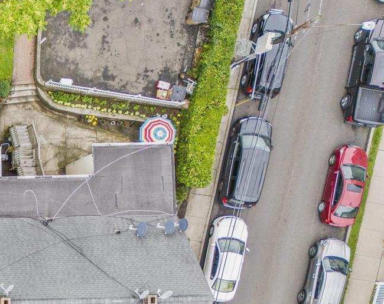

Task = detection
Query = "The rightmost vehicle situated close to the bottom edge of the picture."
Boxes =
[299,237,354,304]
